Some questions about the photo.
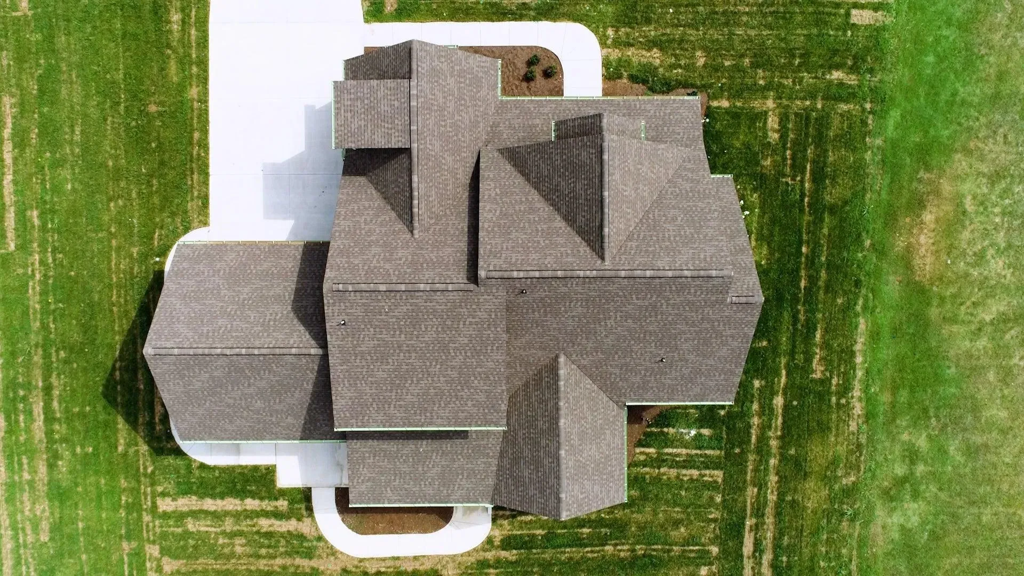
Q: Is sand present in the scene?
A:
No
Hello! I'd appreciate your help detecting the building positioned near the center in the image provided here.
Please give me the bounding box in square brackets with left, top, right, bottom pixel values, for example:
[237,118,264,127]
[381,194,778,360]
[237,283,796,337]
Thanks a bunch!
[144,40,763,519]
